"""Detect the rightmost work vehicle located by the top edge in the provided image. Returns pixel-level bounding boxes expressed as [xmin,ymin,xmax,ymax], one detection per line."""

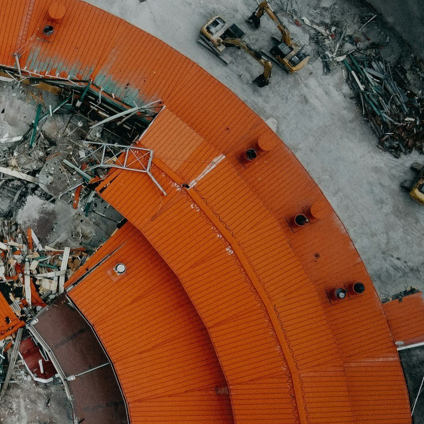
[248,0,311,81]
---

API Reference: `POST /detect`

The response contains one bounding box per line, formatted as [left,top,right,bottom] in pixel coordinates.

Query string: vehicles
[399,166,424,206]
[248,0,311,81]
[186,14,272,88]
